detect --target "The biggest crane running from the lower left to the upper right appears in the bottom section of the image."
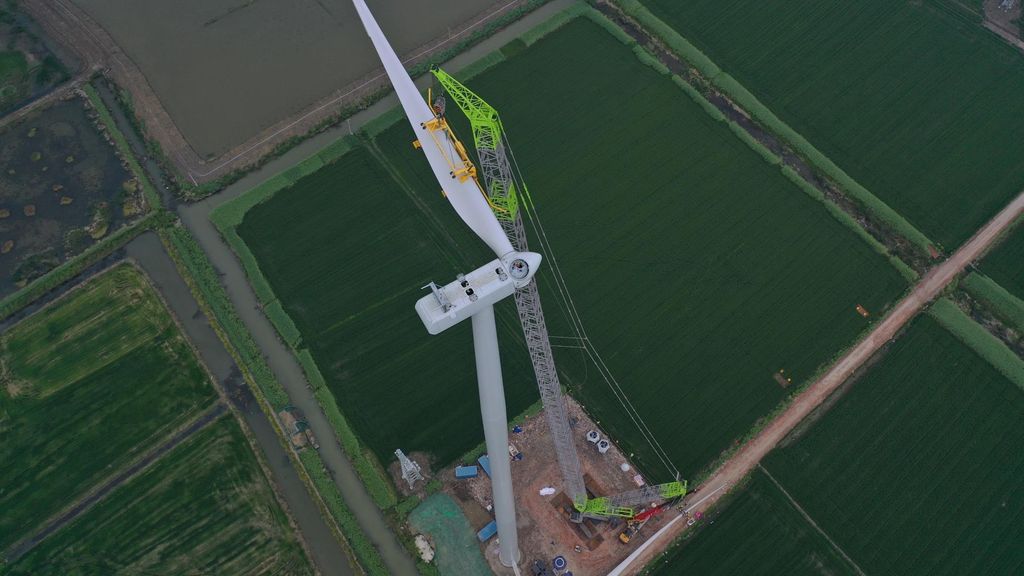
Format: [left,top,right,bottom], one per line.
[621,486,700,543]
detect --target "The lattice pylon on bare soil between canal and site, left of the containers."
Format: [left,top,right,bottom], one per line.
[395,446,424,489]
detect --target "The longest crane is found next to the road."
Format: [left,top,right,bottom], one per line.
[430,61,683,539]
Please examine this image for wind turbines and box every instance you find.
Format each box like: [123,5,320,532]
[415,255,543,576]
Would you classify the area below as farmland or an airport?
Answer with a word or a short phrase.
farmland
